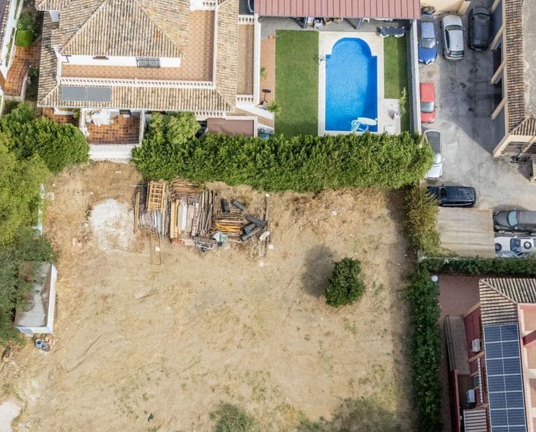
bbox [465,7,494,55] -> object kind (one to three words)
car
